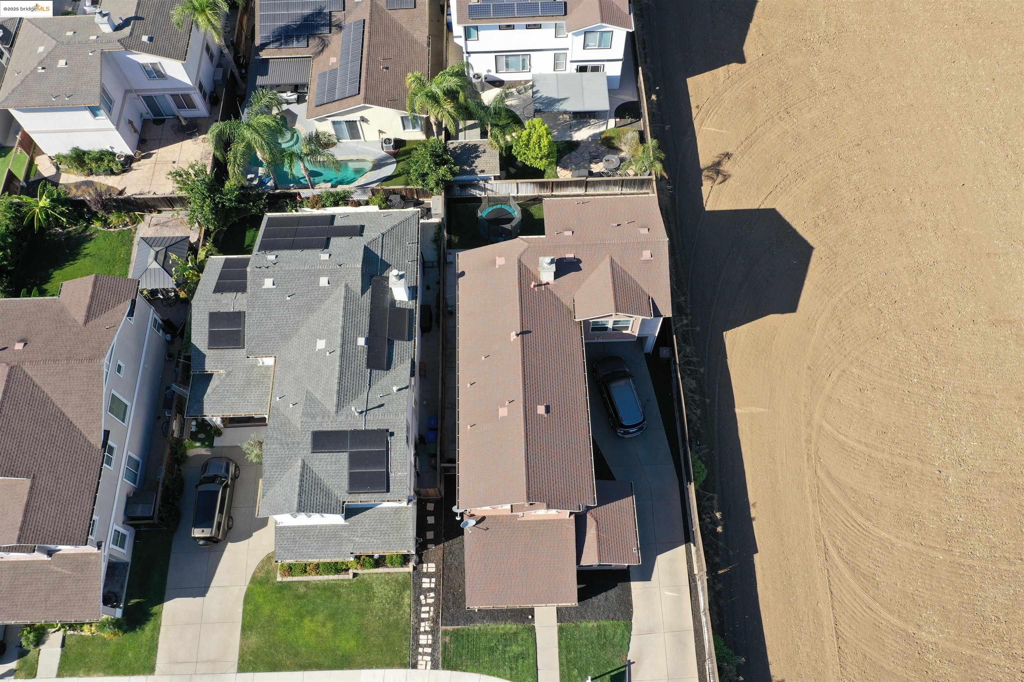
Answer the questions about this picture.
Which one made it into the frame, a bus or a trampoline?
trampoline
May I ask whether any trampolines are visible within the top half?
Yes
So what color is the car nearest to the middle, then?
black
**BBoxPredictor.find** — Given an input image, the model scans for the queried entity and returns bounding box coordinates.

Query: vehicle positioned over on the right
[595,358,646,438]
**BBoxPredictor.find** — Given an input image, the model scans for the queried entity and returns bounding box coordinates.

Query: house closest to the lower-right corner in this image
[455,194,672,612]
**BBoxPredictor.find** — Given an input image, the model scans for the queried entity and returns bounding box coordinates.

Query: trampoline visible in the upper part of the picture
[480,191,520,242]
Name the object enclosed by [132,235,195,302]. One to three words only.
gazebo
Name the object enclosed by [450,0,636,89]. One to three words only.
house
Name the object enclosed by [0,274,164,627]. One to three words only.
house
